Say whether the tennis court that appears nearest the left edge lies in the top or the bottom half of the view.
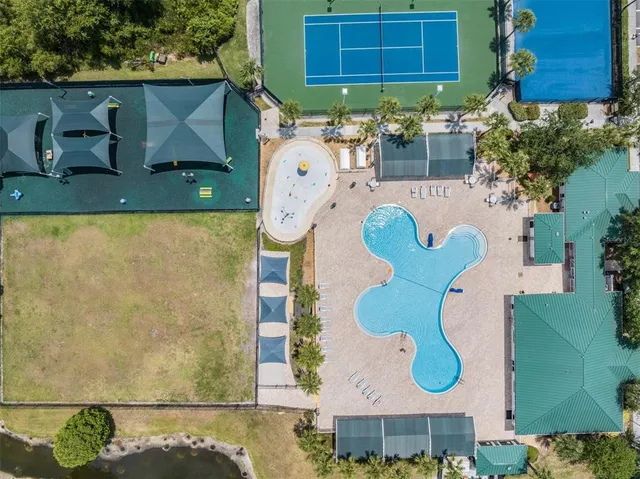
top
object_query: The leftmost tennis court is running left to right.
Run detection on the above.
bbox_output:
[264,0,496,101]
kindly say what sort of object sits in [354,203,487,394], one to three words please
swimming pool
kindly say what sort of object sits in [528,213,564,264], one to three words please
shed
